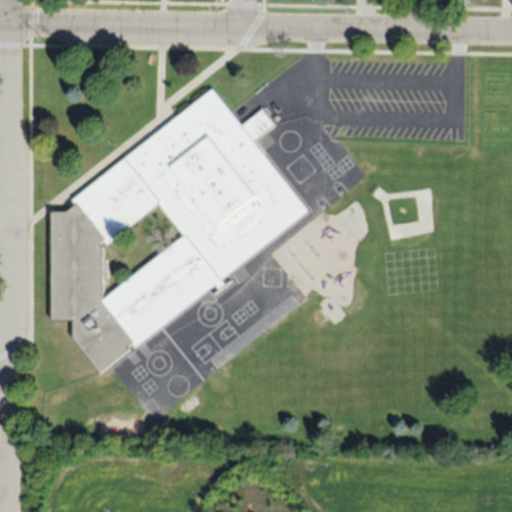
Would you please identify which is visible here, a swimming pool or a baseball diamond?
baseball diamond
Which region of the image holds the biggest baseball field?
right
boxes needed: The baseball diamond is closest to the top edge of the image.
[374,187,434,240]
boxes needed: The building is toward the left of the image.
[50,90,310,374]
